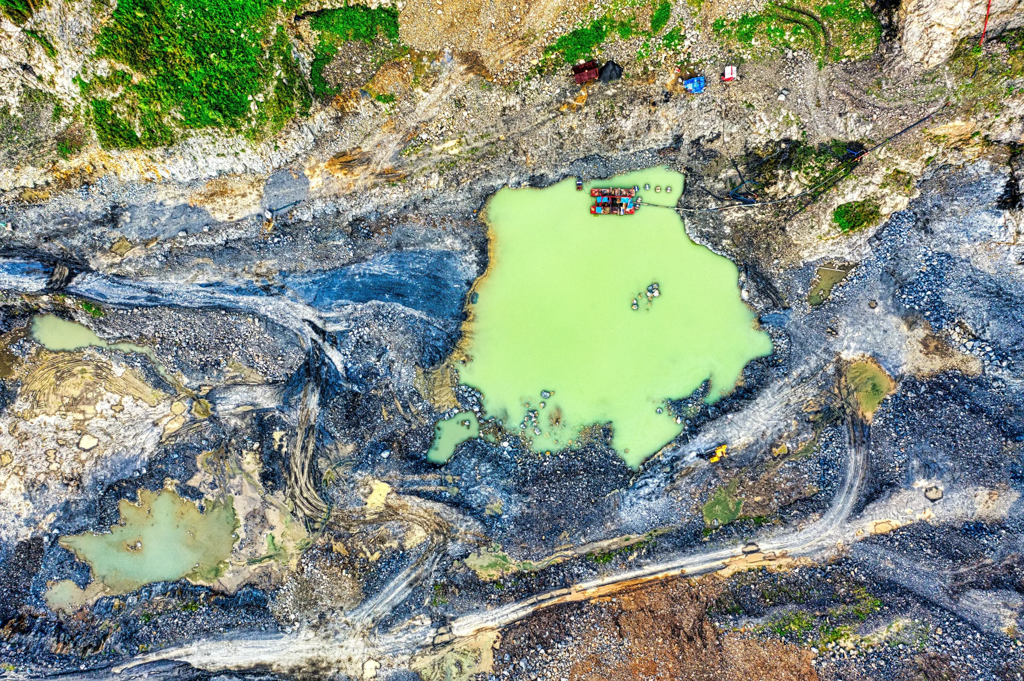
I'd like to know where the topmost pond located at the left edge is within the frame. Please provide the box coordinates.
[32,316,170,379]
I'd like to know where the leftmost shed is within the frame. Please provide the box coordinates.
[571,61,601,89]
